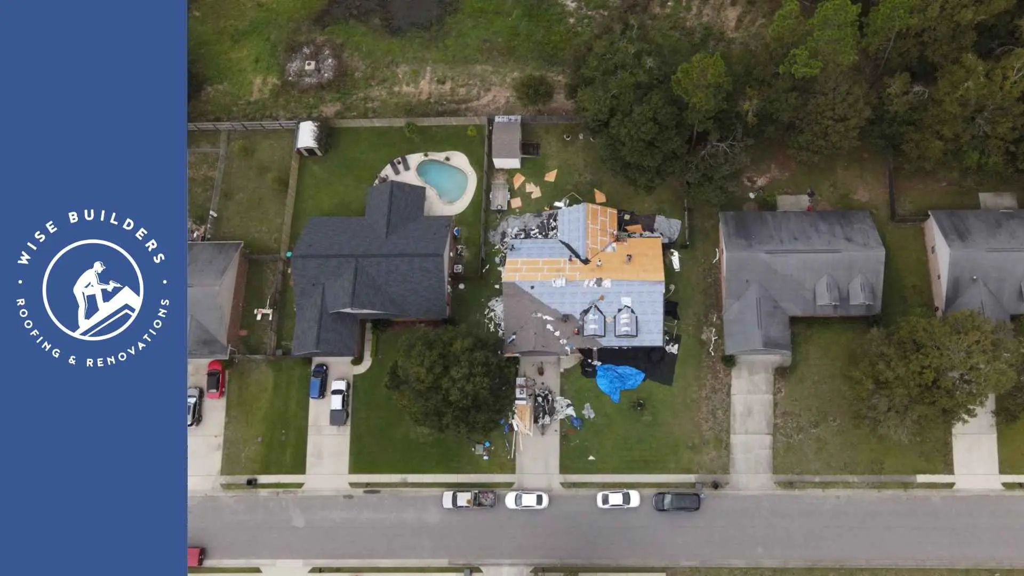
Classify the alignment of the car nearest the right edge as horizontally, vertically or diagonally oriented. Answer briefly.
horizontally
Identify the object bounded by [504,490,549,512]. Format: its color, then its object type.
white car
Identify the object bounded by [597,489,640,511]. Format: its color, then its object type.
white car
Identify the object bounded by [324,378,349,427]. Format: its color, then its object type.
white truck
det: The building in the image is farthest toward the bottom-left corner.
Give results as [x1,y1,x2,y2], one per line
[72,240,247,362]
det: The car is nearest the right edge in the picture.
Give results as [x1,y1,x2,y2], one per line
[653,491,701,514]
